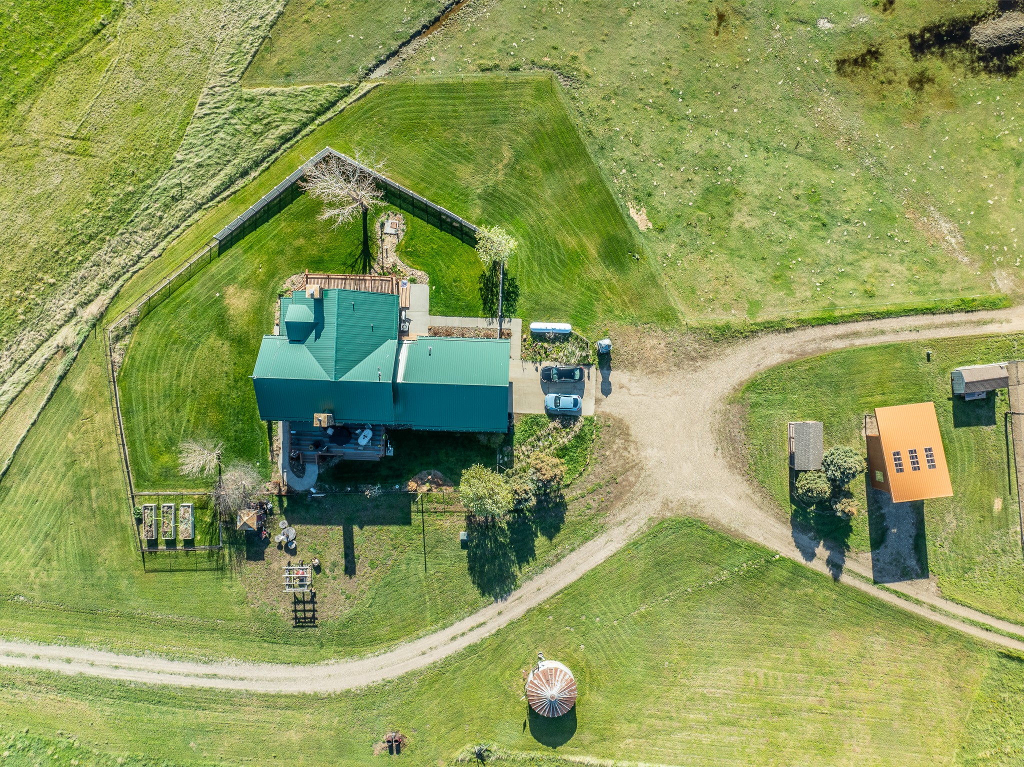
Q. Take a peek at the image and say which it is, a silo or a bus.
silo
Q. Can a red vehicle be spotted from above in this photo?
No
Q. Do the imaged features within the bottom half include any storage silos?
Yes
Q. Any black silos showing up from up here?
No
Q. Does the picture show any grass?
Yes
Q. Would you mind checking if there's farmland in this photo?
Yes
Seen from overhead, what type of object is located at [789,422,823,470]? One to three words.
shed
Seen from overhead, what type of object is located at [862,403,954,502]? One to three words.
building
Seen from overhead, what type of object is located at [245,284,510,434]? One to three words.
house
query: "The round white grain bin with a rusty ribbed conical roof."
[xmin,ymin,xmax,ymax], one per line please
[526,661,578,718]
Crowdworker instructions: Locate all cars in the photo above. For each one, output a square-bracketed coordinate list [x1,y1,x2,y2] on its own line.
[545,394,581,412]
[541,365,584,384]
